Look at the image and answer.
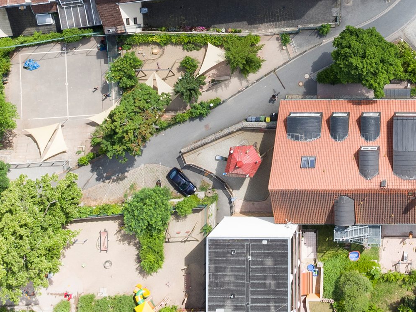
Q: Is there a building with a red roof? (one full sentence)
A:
Yes, there's a building with a red roof down there.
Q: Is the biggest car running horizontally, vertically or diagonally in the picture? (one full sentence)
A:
In this picture, the biggest car is oriented diagonally.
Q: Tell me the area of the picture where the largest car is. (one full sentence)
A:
Look in the center portion of the view to spot the largest car.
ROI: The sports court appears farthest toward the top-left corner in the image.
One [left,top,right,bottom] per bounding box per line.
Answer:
[11,34,110,123]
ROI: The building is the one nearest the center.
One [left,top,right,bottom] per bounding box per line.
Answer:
[215,144,262,178]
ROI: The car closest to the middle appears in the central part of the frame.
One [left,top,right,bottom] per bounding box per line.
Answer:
[170,166,193,193]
